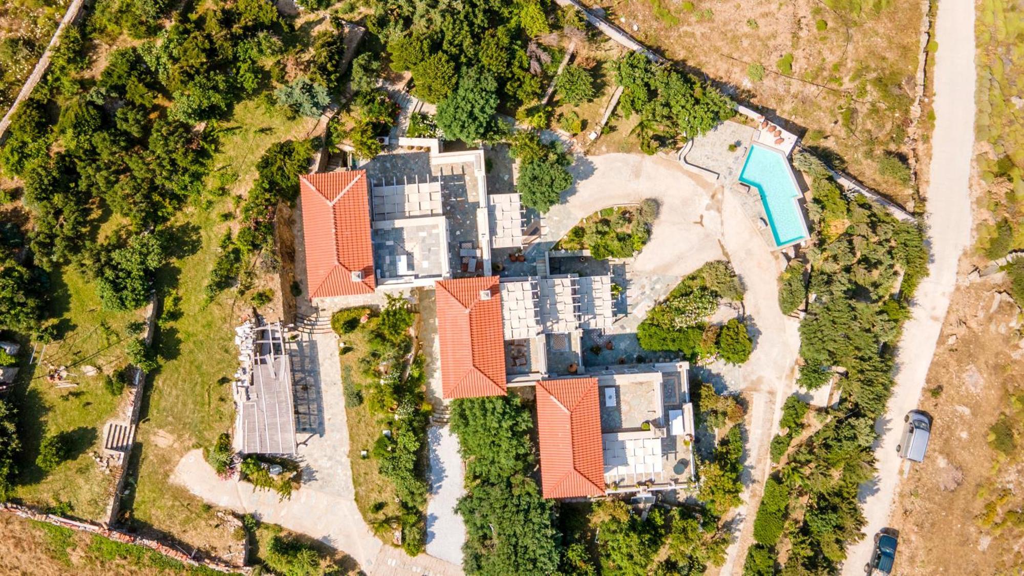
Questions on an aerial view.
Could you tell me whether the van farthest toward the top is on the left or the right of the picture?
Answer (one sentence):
It is on the right.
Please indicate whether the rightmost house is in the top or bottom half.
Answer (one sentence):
The bottom half of the photo is where the rightmost house is.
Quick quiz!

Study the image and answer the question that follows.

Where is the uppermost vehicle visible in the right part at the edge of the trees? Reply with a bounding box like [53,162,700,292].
[896,408,935,465]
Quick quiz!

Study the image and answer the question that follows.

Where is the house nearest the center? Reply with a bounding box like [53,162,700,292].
[435,275,508,400]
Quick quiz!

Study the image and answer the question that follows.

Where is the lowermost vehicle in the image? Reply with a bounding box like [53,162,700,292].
[861,523,902,576]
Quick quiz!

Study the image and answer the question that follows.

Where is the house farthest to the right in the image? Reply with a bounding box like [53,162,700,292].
[535,374,606,500]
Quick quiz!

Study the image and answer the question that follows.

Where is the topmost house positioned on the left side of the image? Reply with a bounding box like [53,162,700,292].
[298,168,387,300]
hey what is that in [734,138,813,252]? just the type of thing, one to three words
swimming pool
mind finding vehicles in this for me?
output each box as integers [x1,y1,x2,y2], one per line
[896,408,935,465]
[861,523,902,576]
